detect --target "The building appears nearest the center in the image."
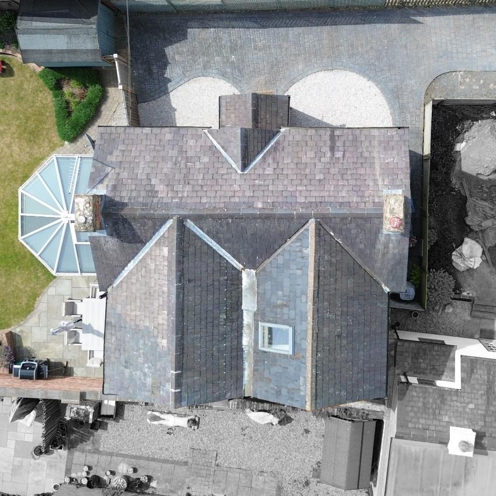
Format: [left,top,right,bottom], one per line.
[65,90,415,410]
